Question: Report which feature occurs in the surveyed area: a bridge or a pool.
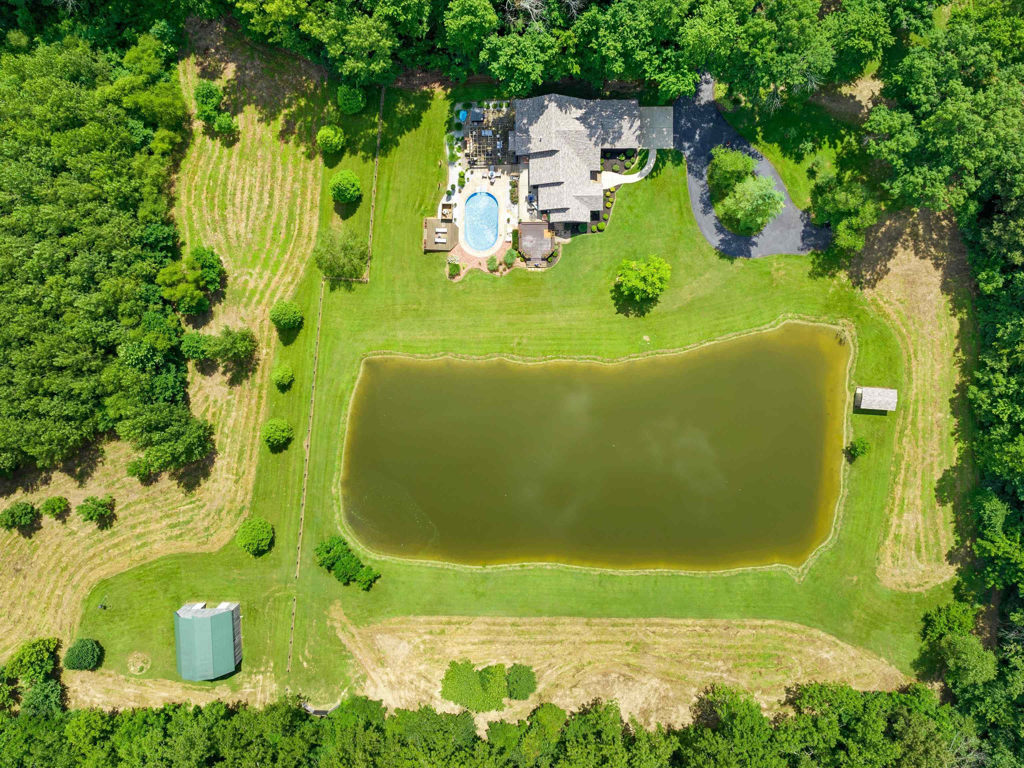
pool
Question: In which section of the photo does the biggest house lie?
top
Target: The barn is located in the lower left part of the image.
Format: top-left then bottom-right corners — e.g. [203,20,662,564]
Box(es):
[174,603,242,681]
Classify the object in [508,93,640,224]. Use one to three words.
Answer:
house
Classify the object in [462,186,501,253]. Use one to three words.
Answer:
swimming pool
